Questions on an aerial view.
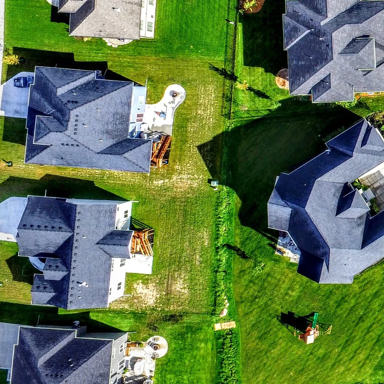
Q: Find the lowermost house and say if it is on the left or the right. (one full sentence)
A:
It is on the left.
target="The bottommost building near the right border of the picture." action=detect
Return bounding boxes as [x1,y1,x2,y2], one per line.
[265,119,384,284]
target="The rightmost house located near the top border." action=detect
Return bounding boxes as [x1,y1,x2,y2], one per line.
[282,0,384,103]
